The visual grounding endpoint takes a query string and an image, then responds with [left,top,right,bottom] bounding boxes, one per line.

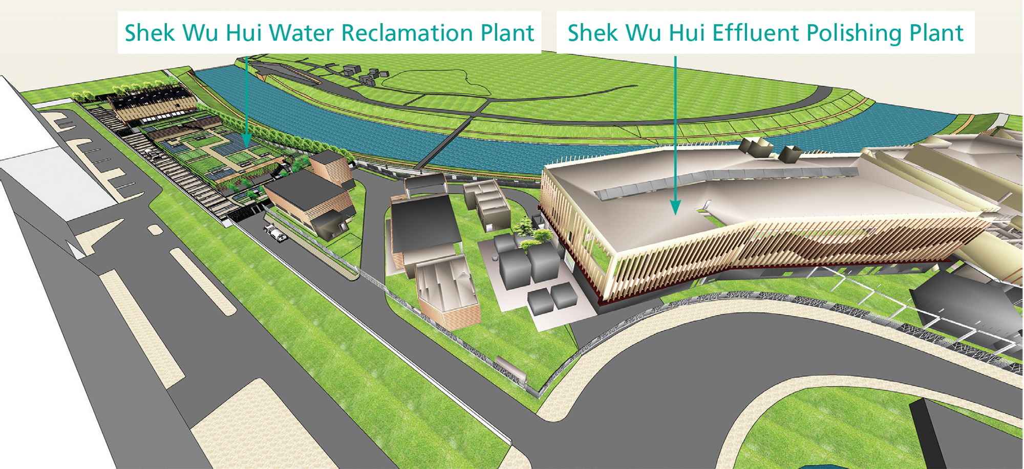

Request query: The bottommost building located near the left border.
[0,178,212,469]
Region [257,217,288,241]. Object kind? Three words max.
truck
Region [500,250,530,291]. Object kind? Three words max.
storage tank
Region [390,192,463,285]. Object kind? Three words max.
building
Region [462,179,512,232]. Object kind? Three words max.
building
